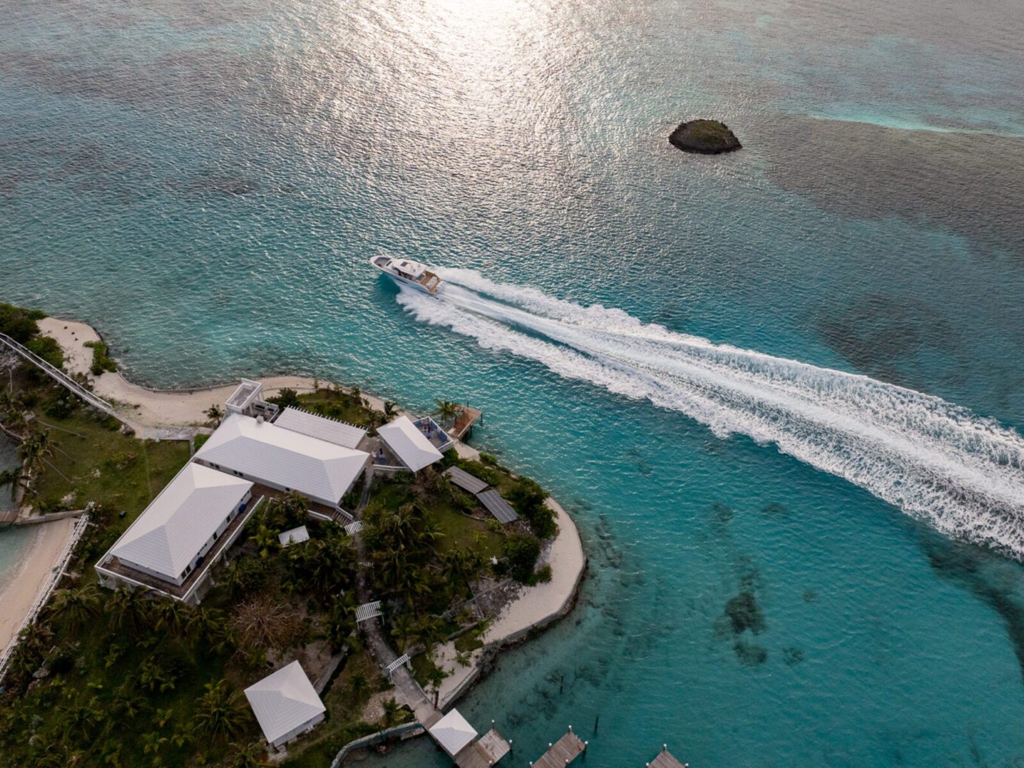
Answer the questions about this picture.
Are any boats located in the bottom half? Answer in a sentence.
No, I can find no boat in the bottom half.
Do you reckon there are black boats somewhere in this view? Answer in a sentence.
No, there's no black boat here.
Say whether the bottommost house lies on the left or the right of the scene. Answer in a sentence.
The bottommost house appears in the left half of the scene.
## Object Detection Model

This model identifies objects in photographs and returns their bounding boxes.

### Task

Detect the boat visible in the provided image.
[371,255,443,296]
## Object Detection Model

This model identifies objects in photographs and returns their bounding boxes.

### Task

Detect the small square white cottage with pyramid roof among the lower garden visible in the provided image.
[244,659,325,766]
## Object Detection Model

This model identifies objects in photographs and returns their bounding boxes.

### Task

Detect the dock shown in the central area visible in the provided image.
[443,400,482,441]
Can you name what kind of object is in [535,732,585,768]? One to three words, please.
pier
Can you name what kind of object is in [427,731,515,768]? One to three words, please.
pier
